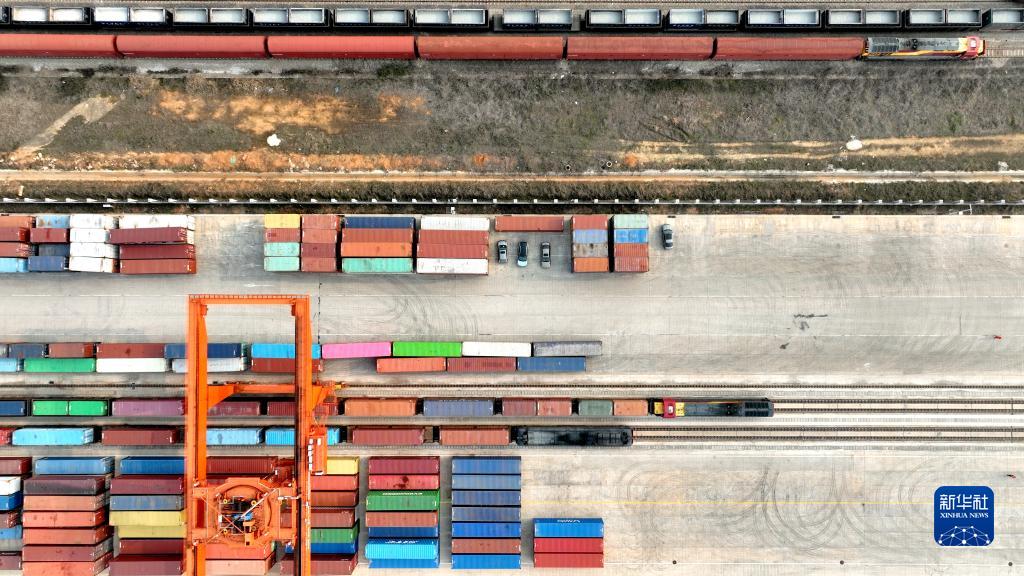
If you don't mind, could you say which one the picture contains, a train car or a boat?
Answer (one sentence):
There is a train car in the scene.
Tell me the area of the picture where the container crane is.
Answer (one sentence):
The container crane appears toward the bottom left of the photo.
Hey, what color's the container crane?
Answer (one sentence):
The color of the container crane is orange.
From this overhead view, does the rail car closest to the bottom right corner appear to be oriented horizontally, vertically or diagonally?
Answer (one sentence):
In this picture, the rail car closest to the bottom right corner is oriented horizontally.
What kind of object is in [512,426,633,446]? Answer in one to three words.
rail car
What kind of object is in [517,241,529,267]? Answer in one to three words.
vehicle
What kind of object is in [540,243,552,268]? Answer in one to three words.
vehicle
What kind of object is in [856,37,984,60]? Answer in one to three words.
rail car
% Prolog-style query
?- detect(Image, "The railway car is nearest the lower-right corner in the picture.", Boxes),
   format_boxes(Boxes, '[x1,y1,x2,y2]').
[649,398,773,418]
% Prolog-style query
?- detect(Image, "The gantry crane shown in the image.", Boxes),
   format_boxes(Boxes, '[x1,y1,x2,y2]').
[184,294,347,576]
